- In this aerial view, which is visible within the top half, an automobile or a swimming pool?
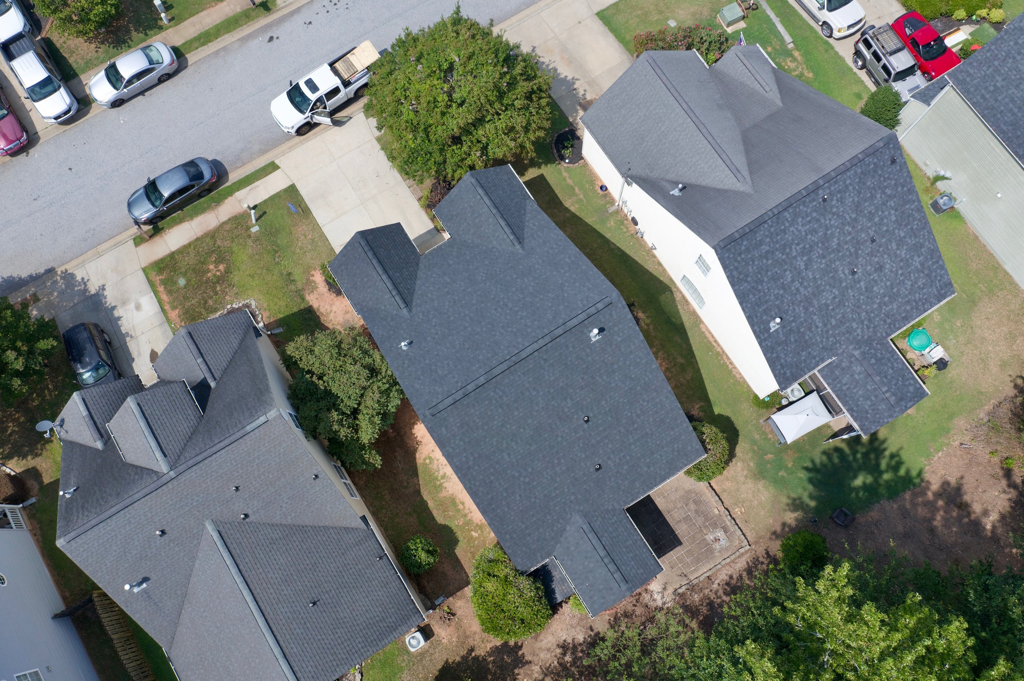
automobile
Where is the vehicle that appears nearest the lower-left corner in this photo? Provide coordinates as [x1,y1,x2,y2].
[62,320,130,388]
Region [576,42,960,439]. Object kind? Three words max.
house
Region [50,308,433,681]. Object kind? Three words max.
house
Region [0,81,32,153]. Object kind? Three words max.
car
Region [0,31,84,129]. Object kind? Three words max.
truck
